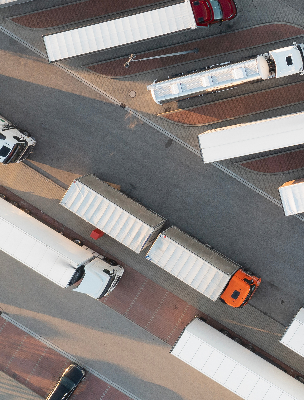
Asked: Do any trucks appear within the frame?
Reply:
Yes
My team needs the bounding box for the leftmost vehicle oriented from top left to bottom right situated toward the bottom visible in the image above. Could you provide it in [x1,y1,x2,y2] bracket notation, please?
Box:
[0,195,127,305]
